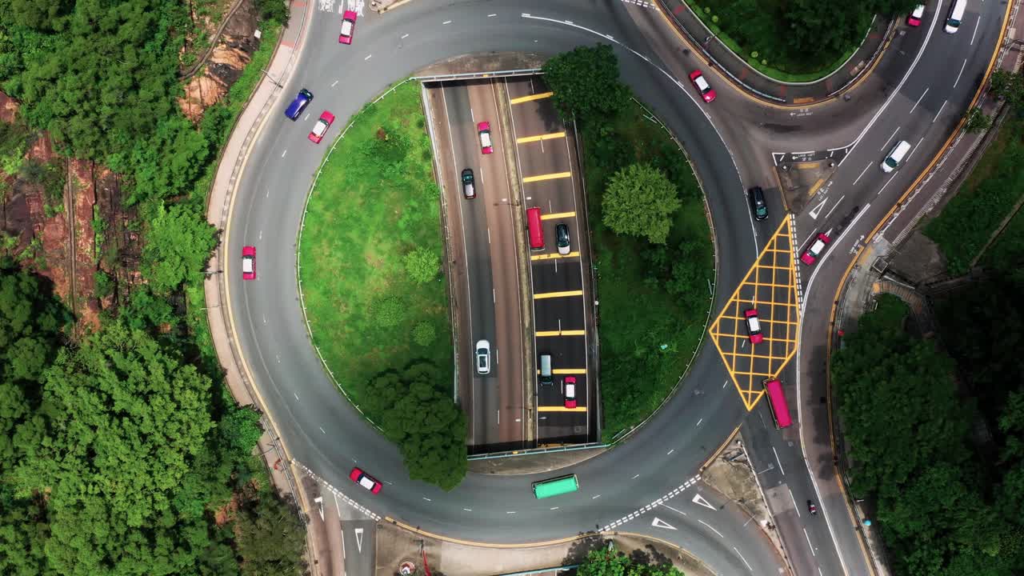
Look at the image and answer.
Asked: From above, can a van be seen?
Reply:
Yes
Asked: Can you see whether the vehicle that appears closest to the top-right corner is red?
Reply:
No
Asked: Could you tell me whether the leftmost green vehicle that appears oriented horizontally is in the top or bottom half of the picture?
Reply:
bottom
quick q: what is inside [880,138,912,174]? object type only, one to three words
van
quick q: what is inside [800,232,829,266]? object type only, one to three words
car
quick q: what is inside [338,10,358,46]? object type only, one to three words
car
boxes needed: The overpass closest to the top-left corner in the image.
[411,63,556,87]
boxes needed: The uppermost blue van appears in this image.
[283,89,313,122]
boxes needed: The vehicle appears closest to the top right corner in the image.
[943,0,969,32]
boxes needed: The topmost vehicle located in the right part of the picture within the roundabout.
[689,69,714,104]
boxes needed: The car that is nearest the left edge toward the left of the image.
[241,245,258,280]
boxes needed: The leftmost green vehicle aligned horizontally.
[531,472,580,500]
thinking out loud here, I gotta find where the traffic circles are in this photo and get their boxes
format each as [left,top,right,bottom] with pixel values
[226,0,888,545]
